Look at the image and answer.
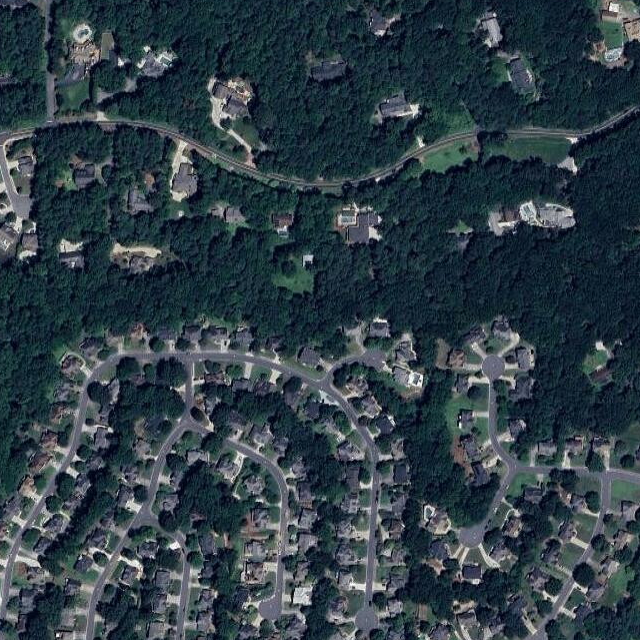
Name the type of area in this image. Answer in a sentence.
It's a residential area.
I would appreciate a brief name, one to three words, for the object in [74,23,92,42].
swimming pool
